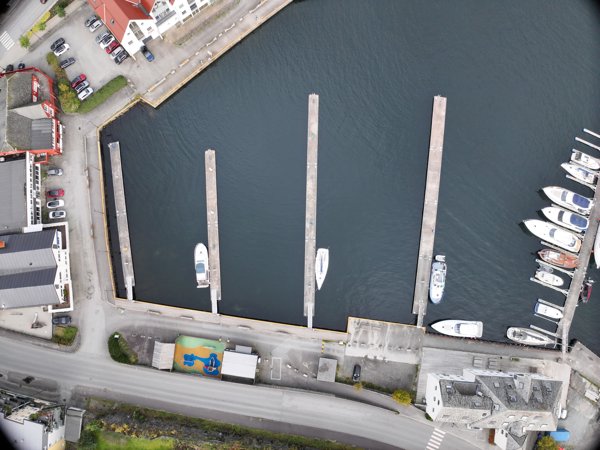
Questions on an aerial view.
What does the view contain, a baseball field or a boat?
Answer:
boat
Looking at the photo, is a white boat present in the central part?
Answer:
Yes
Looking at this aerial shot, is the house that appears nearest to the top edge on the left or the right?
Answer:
left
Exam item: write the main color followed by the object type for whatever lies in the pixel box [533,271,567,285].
white boat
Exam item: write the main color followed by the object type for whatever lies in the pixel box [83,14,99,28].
gray car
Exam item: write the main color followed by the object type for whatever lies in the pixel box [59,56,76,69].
gray vehicle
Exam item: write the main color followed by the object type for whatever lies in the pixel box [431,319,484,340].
white boat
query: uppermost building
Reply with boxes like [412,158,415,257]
[84,0,214,59]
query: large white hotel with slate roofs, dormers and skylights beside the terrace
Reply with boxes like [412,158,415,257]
[424,369,562,450]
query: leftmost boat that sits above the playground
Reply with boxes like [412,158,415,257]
[195,243,212,290]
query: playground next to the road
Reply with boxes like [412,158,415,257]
[173,336,226,380]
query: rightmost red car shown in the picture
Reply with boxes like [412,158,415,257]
[104,40,120,54]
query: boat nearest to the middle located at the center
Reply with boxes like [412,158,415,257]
[312,248,329,289]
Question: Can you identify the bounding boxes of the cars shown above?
[142,49,155,61]
[109,46,125,59]
[16,63,26,70]
[77,87,94,101]
[98,35,116,49]
[4,64,15,71]
[59,56,76,69]
[53,316,73,325]
[104,40,120,54]
[87,19,104,33]
[53,43,70,57]
[46,189,65,197]
[83,14,99,28]
[114,50,130,64]
[94,30,111,44]
[48,210,67,219]
[74,80,90,94]
[49,37,66,51]
[352,363,362,381]
[46,200,65,208]
[70,73,87,87]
